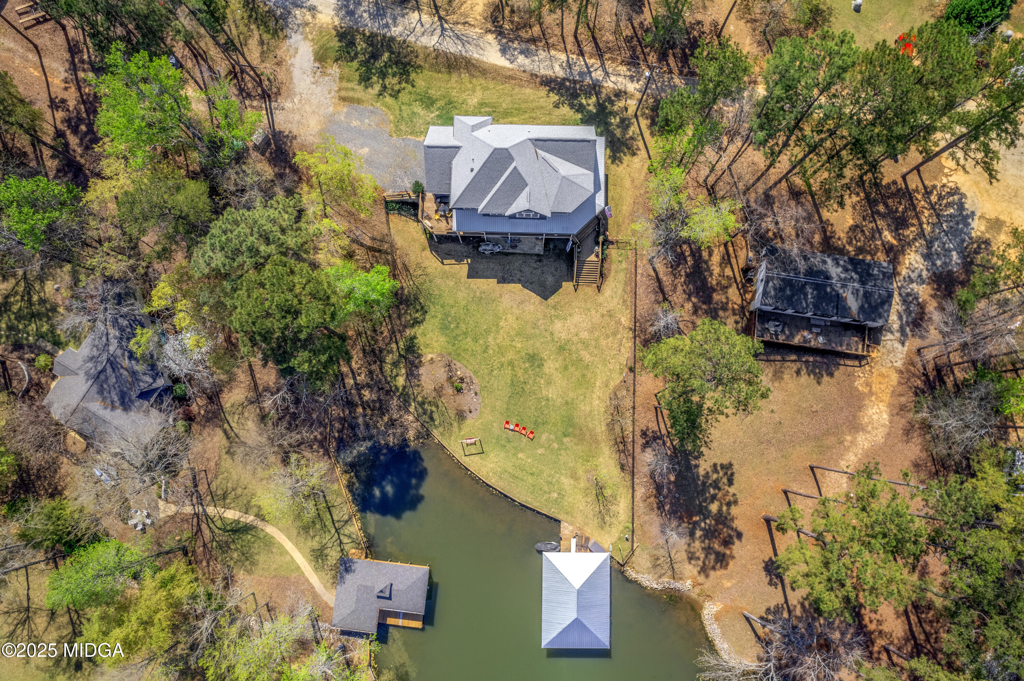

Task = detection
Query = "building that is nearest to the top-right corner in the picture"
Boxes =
[739,246,895,361]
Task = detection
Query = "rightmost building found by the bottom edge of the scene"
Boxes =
[541,521,610,650]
